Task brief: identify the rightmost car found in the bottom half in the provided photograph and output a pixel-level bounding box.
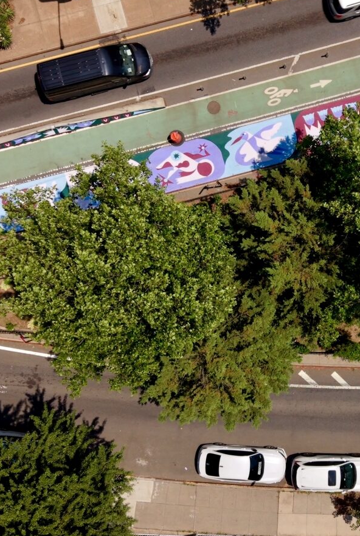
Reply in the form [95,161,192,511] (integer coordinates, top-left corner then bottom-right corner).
[289,449,360,496]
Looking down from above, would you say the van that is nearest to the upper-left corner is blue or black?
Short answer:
black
